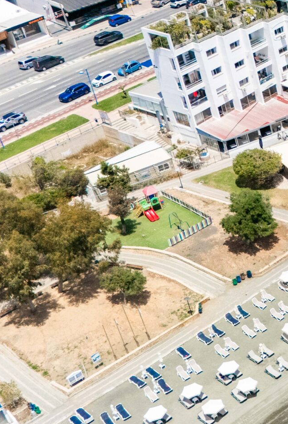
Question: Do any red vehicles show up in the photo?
No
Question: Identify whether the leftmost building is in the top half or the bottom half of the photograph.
top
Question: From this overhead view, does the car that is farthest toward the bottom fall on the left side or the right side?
left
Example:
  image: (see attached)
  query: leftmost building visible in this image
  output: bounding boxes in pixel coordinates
[0,10,47,56]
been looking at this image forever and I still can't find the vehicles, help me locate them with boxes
[165,0,184,8]
[91,29,124,44]
[116,58,145,75]
[90,69,120,87]
[183,0,210,8]
[0,108,34,130]
[106,12,133,25]
[56,80,93,101]
[7,51,38,71]
[28,51,69,71]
